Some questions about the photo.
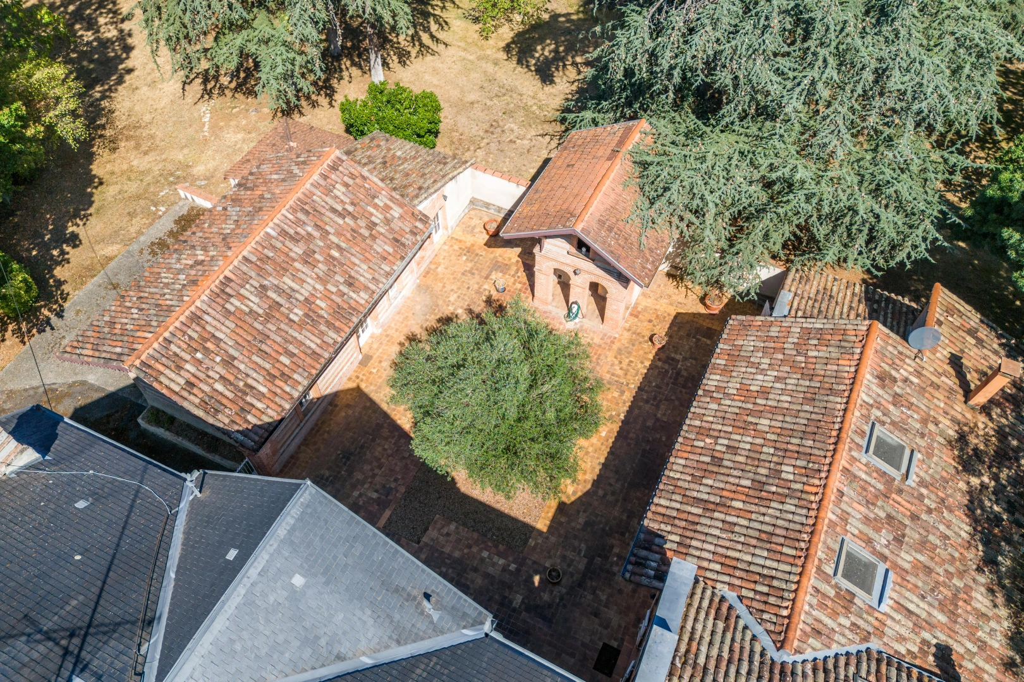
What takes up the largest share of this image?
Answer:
buildings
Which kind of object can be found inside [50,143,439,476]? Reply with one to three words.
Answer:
shed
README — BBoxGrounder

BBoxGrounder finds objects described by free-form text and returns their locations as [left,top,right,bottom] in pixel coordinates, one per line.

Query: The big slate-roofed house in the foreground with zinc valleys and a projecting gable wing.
[0,403,589,682]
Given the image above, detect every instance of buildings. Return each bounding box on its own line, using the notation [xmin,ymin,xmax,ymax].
[0,403,589,682]
[499,114,702,337]
[50,143,439,476]
[617,280,1024,682]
